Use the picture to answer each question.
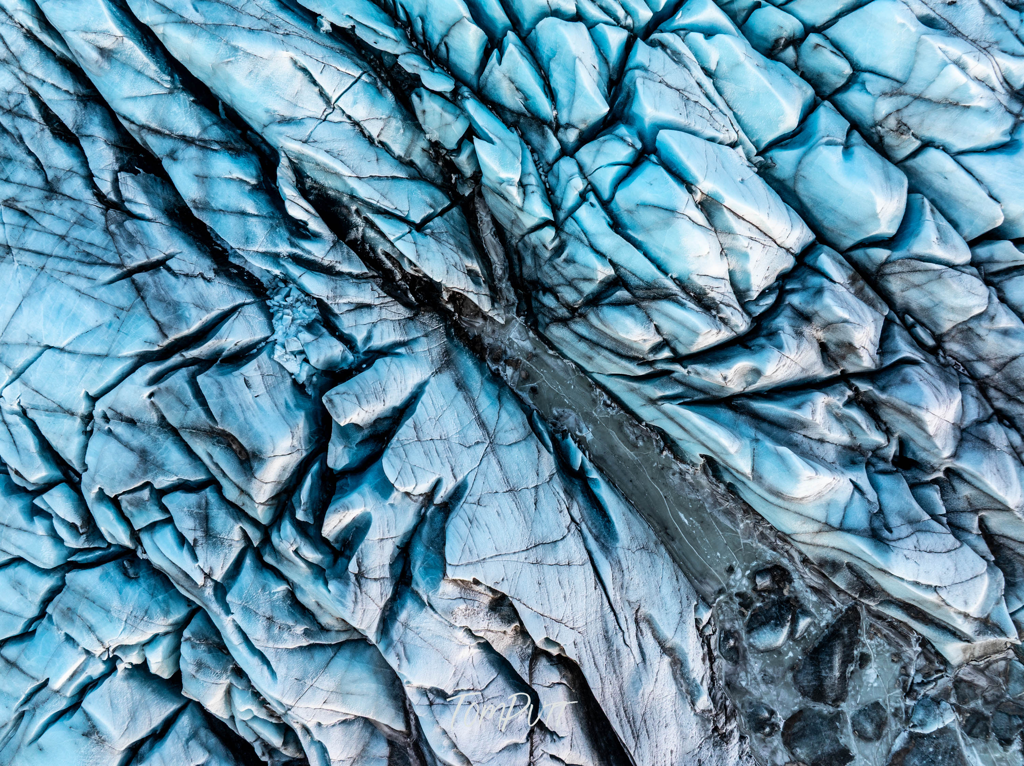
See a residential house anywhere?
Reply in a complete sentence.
No, there is no residential house in the image.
